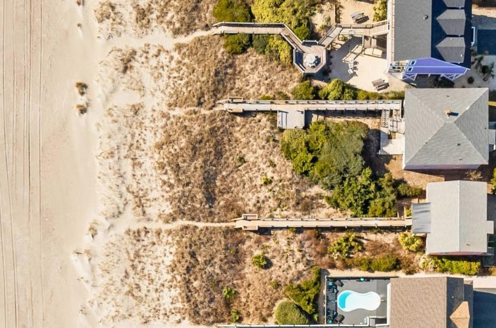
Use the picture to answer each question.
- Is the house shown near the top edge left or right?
right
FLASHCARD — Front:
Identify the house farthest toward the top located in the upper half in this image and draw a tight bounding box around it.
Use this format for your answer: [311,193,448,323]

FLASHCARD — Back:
[378,0,473,86]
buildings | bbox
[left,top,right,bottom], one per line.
[384,276,474,328]
[378,0,473,86]
[410,180,496,256]
[381,87,496,172]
